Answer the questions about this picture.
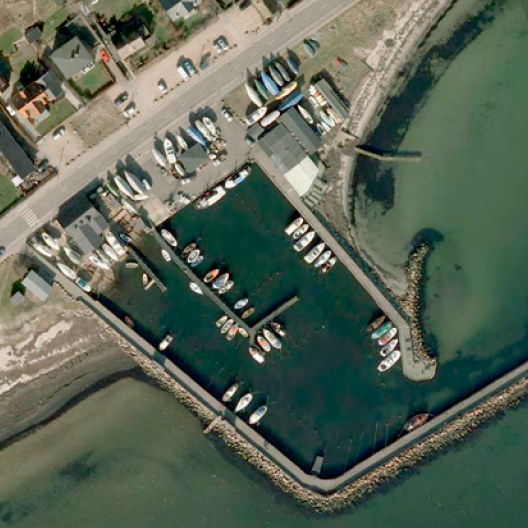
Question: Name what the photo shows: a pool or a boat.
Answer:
boat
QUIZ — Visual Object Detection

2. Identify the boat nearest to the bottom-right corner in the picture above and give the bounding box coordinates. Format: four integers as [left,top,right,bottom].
[401,414,431,431]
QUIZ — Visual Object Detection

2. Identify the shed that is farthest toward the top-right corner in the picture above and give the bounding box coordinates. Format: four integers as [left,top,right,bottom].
[315,77,349,120]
